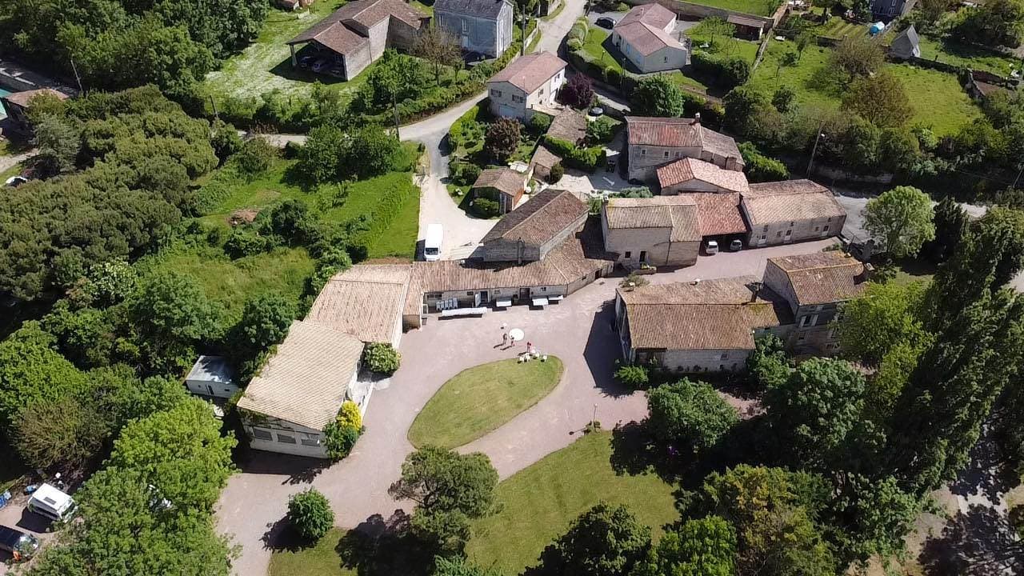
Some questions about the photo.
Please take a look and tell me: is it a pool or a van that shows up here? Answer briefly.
van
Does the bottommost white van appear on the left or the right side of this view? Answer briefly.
left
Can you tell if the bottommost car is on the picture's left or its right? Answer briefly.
left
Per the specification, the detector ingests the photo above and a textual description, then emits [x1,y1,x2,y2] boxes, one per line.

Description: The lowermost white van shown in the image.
[28,482,80,526]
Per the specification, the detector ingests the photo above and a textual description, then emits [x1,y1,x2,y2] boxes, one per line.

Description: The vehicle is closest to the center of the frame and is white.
[423,226,443,260]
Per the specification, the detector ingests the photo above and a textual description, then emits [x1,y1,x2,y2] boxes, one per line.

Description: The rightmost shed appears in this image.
[969,80,1009,106]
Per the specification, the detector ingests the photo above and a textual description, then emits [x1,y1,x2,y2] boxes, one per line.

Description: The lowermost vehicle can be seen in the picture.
[0,526,38,560]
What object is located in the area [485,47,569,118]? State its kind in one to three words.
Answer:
house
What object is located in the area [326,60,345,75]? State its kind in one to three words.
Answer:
car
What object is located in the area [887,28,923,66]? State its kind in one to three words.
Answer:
shed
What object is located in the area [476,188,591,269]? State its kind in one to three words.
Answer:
barn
